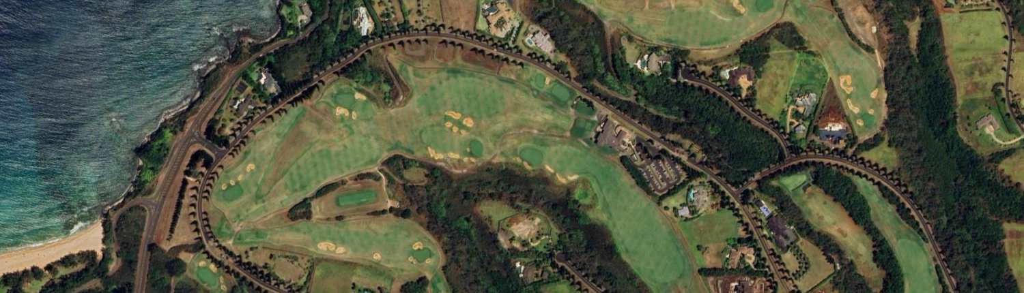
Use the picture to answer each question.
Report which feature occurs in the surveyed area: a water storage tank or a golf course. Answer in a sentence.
Looking from above, you can make out a golf course.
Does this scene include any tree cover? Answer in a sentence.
Yes, tree cover shows up in the scene.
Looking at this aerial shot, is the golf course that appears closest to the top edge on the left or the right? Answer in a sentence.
The golf course that appears closest to the top edge sits on the right side.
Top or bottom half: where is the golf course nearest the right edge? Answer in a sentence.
You can find the golf course nearest the right edge in the bottom half.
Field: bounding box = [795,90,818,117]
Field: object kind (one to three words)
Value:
house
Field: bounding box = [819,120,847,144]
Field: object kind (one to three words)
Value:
house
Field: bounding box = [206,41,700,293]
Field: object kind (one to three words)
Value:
golf course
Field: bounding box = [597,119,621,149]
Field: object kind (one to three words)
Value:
building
